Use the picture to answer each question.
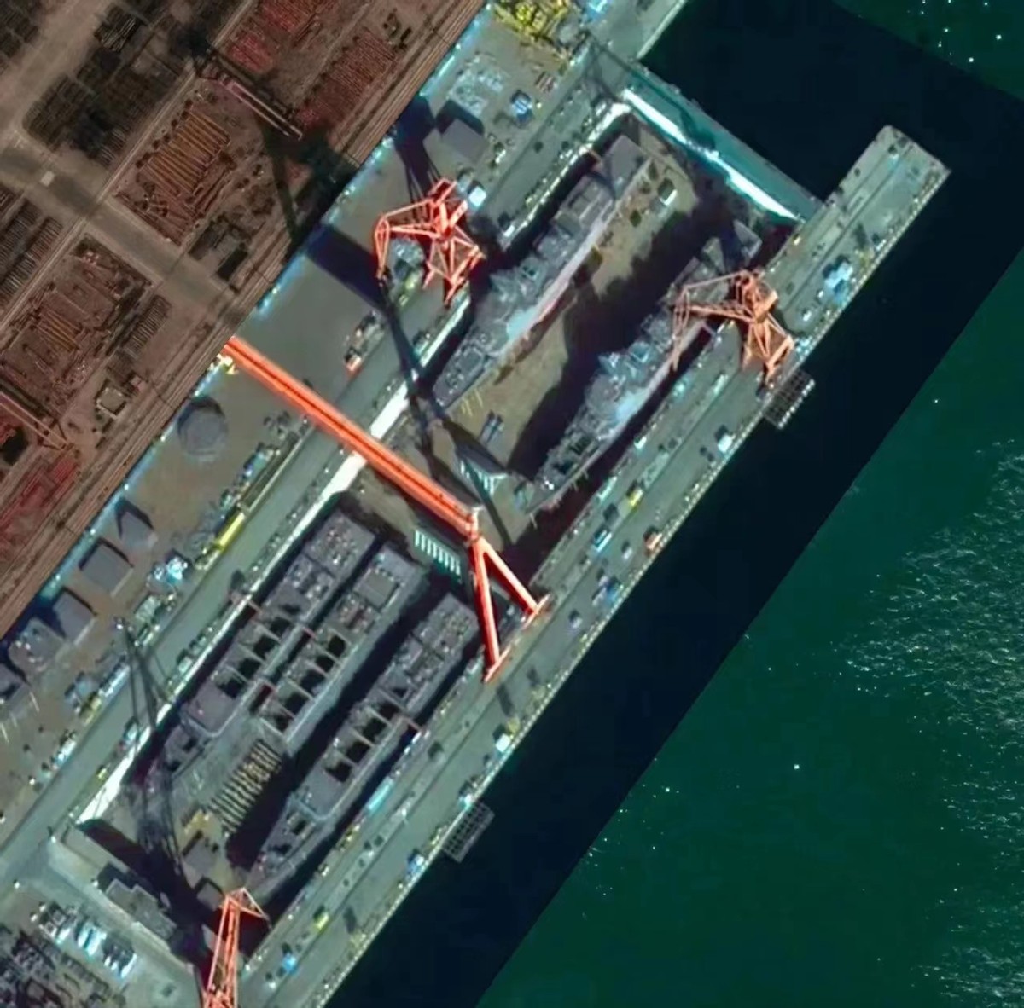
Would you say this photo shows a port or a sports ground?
port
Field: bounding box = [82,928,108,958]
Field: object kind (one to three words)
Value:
truck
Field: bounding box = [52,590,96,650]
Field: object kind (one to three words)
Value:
shed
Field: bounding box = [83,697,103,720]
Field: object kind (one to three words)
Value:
vehicle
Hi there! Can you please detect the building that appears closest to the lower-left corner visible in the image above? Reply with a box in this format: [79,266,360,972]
[105,880,180,945]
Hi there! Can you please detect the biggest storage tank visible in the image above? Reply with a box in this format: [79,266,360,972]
[182,409,228,454]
